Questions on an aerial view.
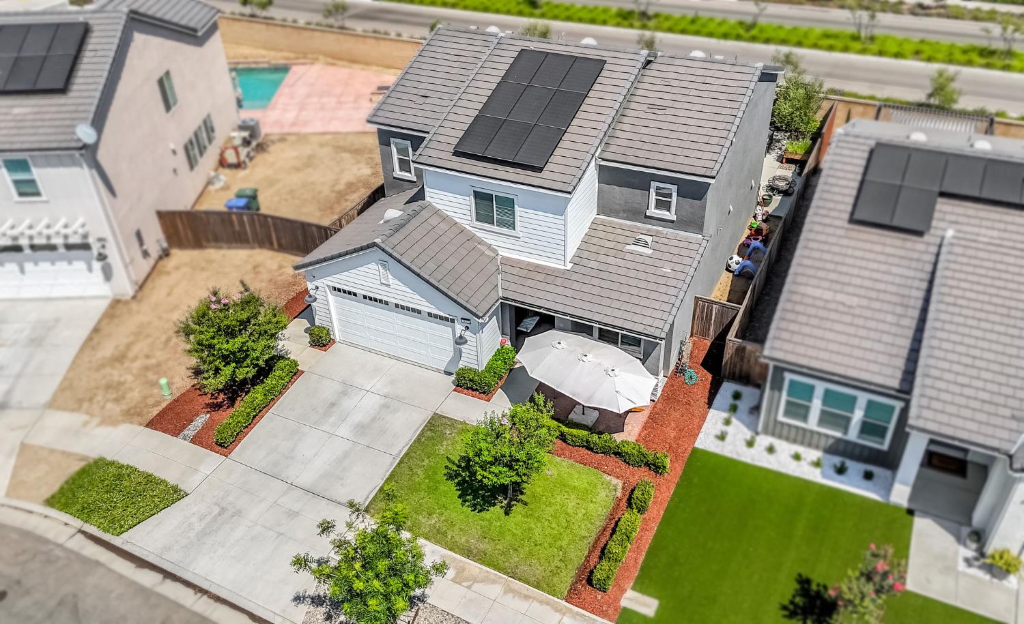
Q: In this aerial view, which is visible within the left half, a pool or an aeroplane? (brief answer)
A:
pool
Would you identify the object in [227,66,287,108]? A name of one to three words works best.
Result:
swimming pool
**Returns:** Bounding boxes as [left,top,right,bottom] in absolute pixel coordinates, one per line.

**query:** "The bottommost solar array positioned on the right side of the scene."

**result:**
[851,144,1024,235]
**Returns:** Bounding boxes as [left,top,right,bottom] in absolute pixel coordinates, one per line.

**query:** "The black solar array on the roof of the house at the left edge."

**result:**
[0,20,87,92]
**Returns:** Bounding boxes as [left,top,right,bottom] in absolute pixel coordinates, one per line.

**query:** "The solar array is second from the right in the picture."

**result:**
[455,50,605,170]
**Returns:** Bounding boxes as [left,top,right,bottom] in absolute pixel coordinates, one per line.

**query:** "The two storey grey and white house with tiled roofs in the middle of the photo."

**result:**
[291,23,786,404]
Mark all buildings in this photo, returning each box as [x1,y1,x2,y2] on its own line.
[0,0,240,302]
[291,23,786,404]
[757,113,1024,553]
